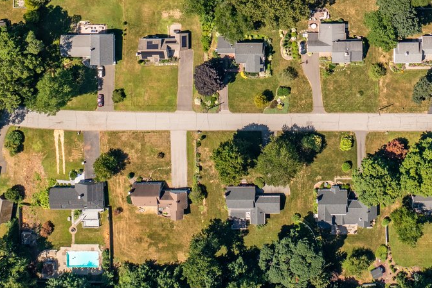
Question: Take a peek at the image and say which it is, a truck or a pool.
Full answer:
The image shows a pool.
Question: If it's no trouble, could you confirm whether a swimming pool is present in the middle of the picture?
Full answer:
No, I can find no swimming pool in the middle of the picture.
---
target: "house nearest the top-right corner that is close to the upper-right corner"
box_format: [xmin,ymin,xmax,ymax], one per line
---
[393,35,432,65]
